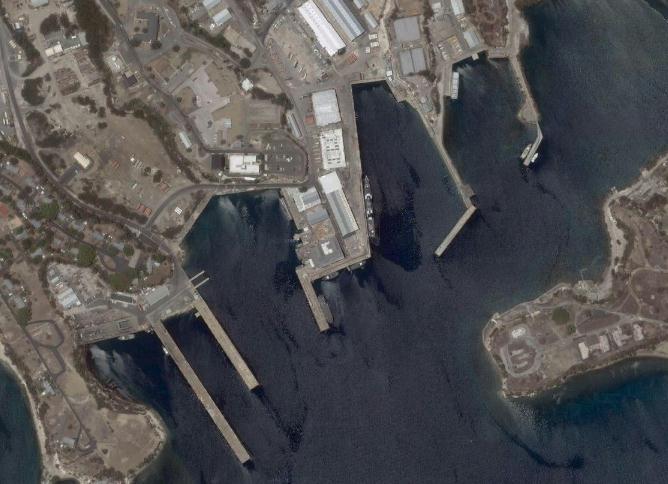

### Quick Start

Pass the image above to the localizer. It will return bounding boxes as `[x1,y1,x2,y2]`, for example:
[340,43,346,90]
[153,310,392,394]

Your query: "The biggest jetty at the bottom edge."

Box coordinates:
[153,321,250,464]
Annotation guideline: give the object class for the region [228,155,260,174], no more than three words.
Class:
building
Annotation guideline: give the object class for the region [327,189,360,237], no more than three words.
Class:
hangar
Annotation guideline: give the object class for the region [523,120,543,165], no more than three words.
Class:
pier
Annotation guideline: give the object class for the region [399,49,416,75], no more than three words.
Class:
building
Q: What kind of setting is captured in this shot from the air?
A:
port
